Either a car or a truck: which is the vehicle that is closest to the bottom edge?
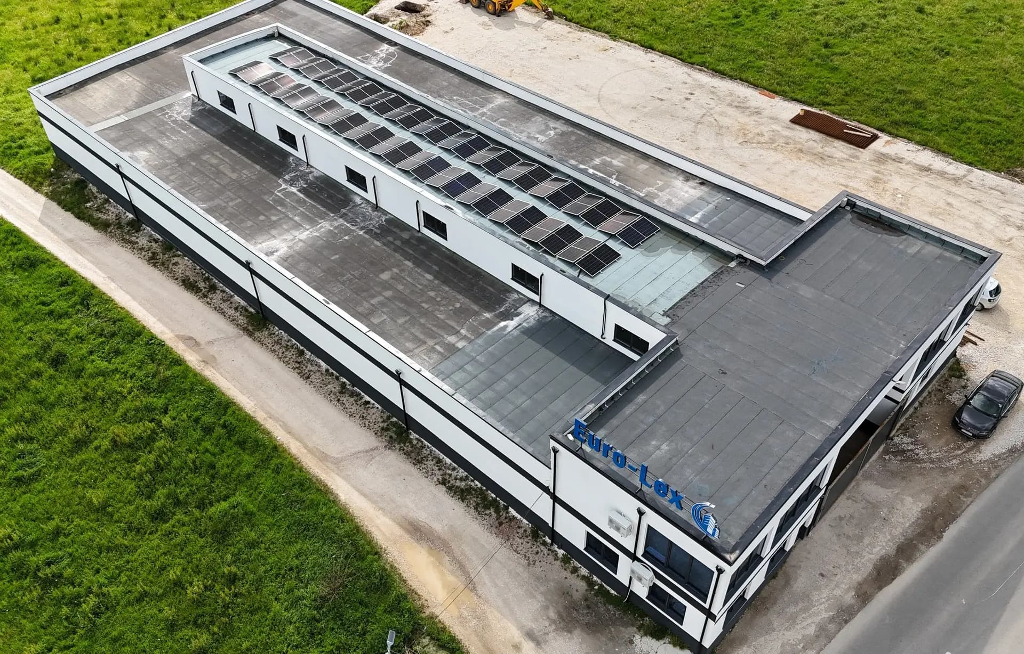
car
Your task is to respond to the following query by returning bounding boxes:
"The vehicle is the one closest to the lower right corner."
[955,371,1023,443]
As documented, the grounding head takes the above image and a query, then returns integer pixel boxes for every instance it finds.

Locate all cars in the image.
[975,277,1003,311]
[955,371,1023,443]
